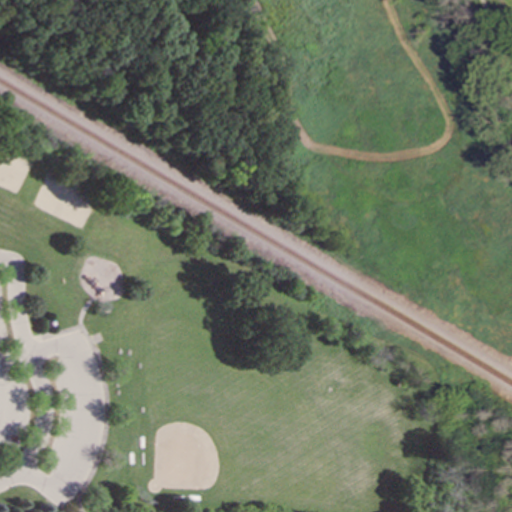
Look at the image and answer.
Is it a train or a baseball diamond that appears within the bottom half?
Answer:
baseball diamond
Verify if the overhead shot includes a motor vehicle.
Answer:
No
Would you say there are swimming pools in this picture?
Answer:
No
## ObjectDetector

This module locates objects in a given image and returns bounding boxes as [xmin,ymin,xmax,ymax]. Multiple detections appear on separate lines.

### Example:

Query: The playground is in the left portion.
[81,256,122,302]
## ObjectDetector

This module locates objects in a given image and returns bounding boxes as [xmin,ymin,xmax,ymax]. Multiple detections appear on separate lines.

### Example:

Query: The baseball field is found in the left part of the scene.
[148,421,220,493]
